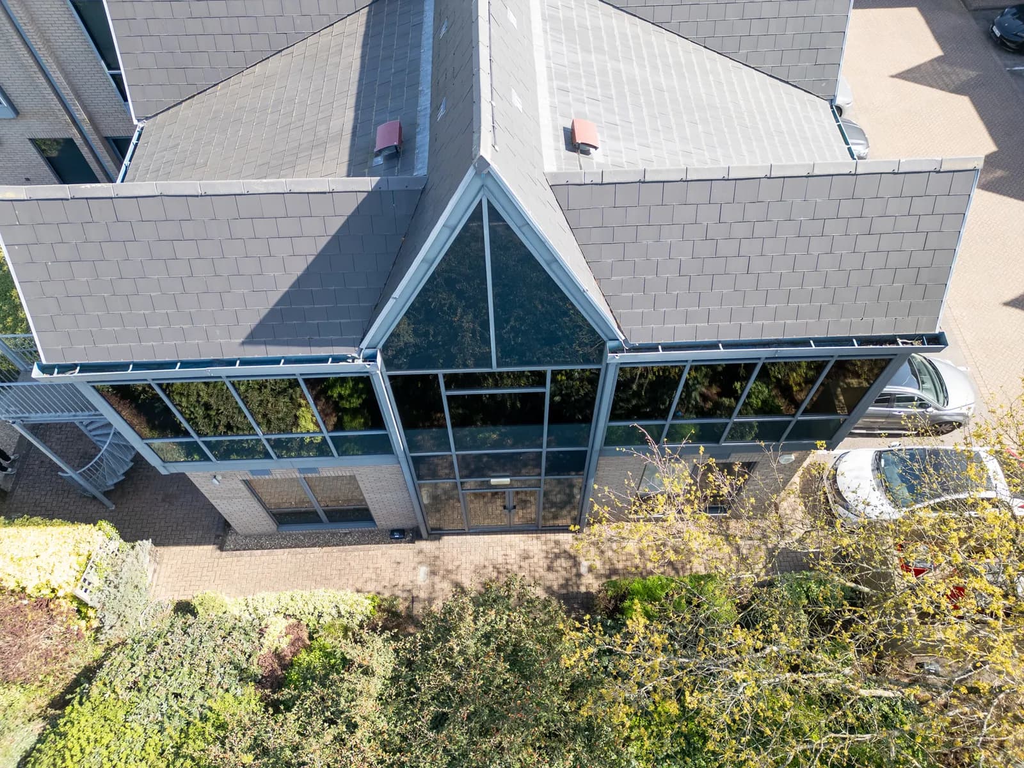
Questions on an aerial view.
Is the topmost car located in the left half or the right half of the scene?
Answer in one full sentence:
It is on the right.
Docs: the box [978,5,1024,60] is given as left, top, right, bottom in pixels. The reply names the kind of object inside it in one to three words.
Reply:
car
